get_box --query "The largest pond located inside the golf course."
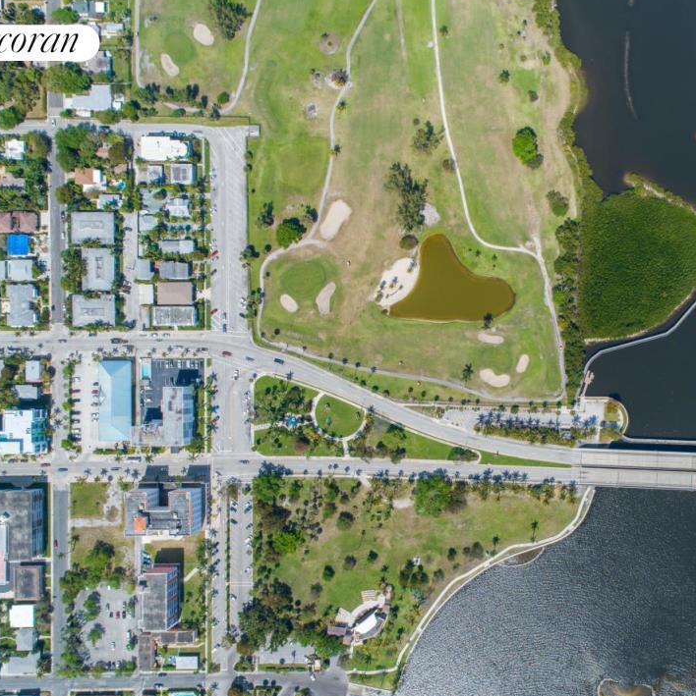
[389,234,515,321]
